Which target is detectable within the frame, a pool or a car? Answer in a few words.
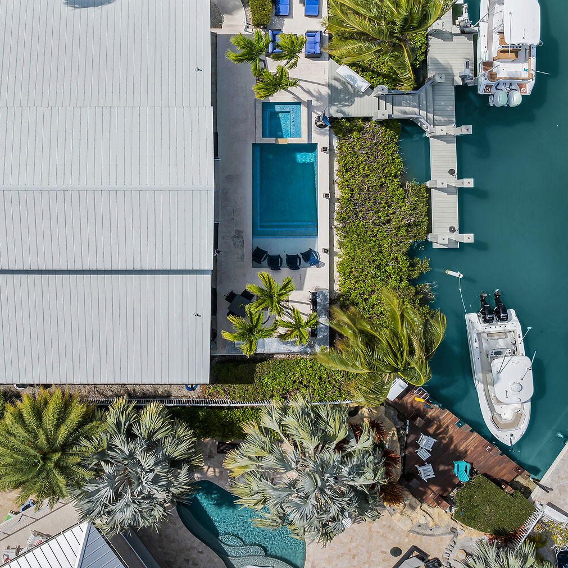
pool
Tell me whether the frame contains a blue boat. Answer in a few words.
No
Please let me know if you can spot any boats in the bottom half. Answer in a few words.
Yes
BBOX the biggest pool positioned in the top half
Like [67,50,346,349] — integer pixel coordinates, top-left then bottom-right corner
[248,143,322,273]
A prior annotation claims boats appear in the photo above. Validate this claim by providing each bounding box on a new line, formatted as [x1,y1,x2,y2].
[475,0,549,107]
[467,288,535,451]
